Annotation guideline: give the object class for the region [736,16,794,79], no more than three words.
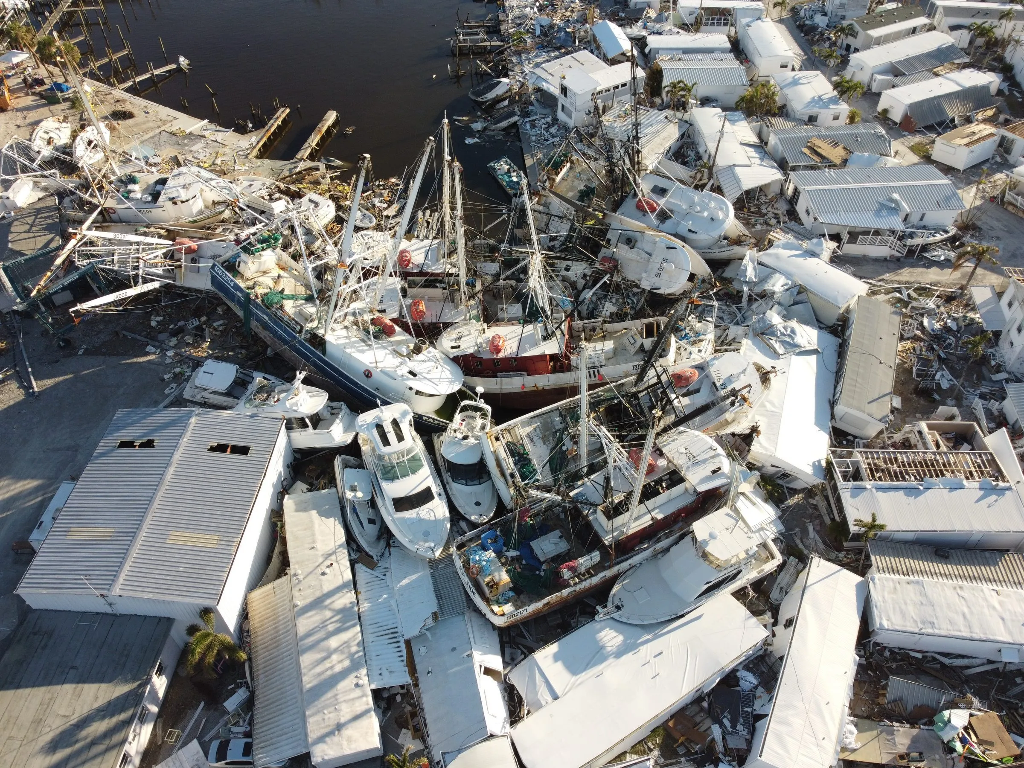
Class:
house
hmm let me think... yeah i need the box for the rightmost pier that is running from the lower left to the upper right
[293,112,341,162]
